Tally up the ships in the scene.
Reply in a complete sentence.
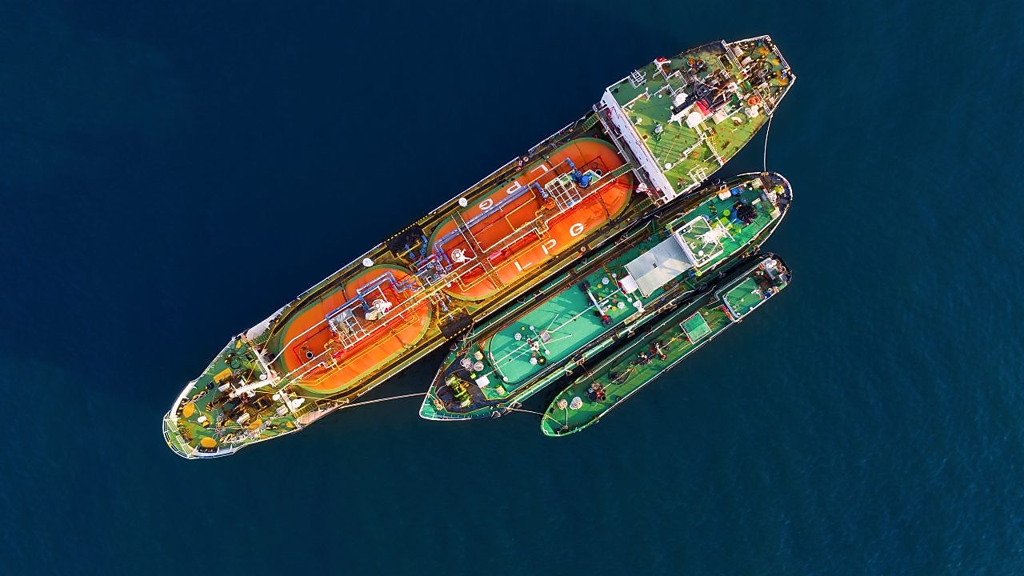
I count 3 ships.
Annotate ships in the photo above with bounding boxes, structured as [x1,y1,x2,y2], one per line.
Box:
[419,171,795,423]
[159,32,799,461]
[541,251,794,437]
